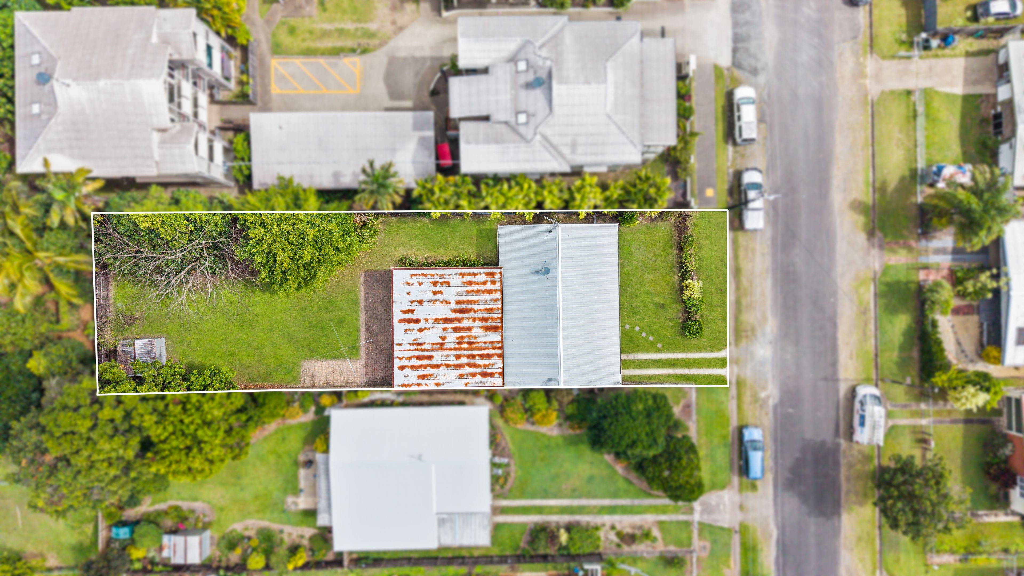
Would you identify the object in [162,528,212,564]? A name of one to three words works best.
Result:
shed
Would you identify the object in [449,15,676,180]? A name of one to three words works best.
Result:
house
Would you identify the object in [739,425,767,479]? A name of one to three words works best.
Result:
car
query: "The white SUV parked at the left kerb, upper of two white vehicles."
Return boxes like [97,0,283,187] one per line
[730,86,759,146]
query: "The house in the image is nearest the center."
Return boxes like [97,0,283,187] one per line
[497,223,622,388]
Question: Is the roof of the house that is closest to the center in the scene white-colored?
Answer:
Yes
